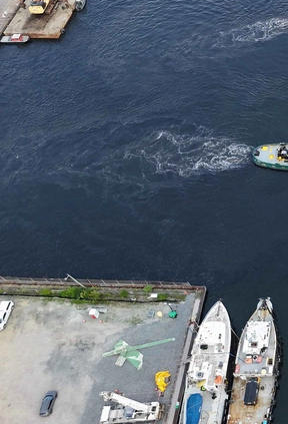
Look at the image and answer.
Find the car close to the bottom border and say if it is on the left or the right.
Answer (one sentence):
The car close to the bottom border sits on the left side.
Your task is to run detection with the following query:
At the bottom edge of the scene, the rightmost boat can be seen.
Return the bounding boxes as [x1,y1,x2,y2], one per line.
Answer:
[215,297,277,424]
